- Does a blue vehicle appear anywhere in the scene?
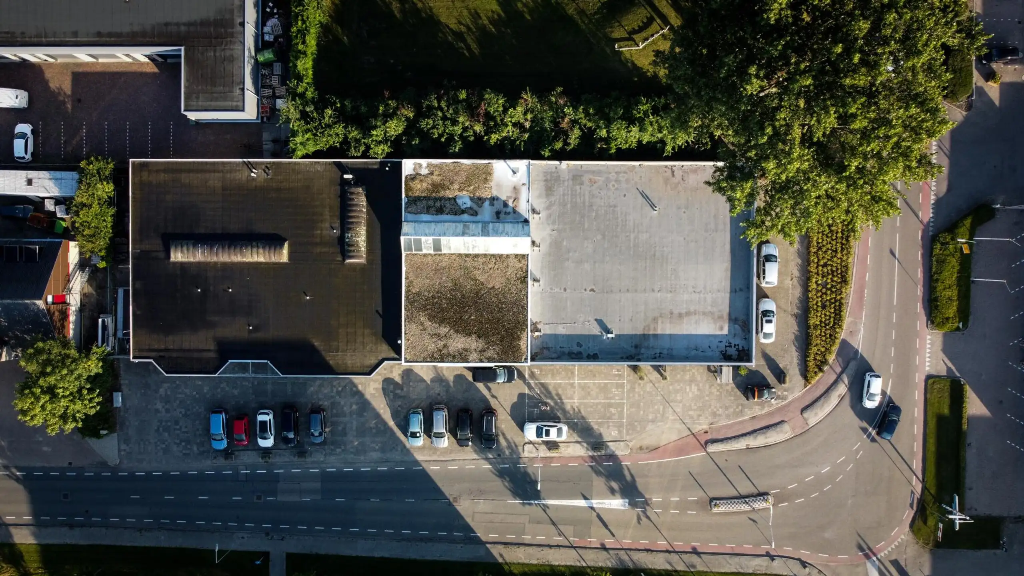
Yes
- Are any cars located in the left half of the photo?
Yes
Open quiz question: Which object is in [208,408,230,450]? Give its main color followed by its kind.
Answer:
blue car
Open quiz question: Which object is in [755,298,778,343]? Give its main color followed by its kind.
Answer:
white car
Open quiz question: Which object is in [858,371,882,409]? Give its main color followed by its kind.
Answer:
white car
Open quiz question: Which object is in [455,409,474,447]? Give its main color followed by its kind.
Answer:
black car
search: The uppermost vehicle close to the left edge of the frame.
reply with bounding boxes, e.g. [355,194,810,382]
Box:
[0,87,30,111]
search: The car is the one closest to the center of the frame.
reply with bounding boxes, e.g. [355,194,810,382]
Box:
[472,366,517,386]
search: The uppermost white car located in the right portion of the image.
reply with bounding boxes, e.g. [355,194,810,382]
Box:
[757,243,780,287]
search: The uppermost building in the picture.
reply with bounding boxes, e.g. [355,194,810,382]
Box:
[0,0,264,126]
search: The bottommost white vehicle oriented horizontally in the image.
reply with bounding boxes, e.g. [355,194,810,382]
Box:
[523,422,568,443]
